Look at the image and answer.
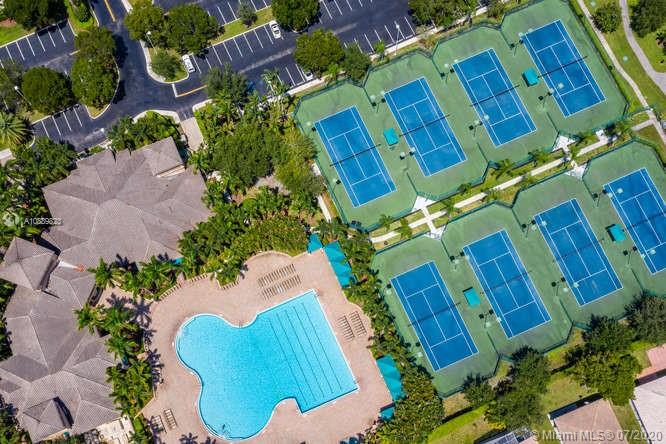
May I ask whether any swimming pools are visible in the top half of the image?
No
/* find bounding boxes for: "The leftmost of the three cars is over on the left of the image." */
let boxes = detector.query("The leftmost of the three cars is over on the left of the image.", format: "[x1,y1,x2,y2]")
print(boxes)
[181,53,195,72]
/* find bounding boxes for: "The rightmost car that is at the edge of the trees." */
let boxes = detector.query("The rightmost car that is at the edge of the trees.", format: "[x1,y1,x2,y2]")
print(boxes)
[302,64,315,83]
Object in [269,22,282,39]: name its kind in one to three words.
vehicle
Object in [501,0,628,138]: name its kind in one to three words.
tennis court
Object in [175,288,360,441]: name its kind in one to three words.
swimming pool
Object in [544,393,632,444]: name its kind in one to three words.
house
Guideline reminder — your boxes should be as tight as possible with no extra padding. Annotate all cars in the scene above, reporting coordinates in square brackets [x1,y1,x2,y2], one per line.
[181,53,195,72]
[302,64,315,83]
[269,22,282,39]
